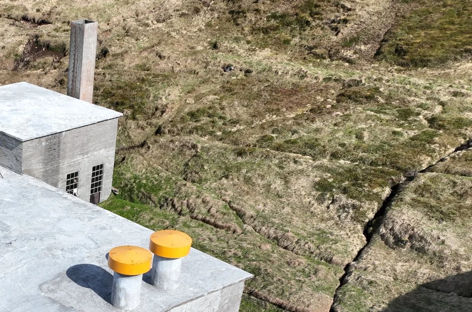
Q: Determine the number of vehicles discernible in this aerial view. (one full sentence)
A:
There are no vehicles in the image.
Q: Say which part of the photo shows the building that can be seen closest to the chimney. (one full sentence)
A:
The building that can be seen closest to the chimney sits in the left section of the image.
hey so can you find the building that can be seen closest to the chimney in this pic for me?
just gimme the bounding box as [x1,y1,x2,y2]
[0,83,123,204]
